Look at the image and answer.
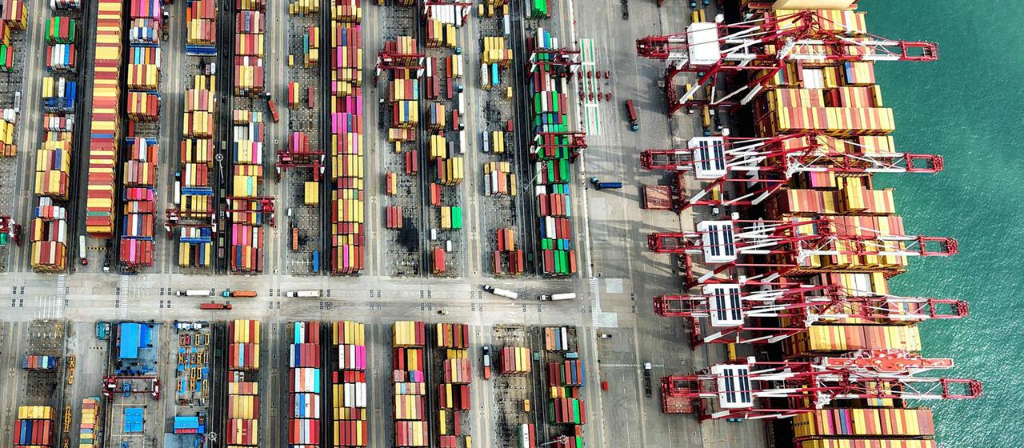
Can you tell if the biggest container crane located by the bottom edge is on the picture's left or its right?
right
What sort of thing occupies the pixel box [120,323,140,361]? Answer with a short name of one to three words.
building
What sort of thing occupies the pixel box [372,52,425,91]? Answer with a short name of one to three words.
container crane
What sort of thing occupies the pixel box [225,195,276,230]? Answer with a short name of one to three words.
container crane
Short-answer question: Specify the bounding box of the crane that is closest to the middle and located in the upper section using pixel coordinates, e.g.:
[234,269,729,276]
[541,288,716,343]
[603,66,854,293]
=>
[528,131,589,168]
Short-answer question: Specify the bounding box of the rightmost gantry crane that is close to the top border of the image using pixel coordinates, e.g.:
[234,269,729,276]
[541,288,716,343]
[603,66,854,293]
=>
[629,12,929,117]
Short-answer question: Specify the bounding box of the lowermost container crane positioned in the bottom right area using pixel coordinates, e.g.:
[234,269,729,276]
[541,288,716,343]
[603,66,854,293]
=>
[659,353,987,428]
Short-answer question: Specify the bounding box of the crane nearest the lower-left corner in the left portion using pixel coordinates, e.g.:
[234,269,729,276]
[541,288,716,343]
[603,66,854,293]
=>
[102,375,161,405]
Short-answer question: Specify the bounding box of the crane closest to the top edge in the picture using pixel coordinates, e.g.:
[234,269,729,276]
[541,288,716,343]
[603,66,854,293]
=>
[418,0,472,30]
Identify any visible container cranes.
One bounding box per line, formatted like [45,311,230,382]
[646,212,962,294]
[164,210,218,244]
[638,127,948,217]
[276,149,327,186]
[418,0,472,30]
[372,52,425,91]
[652,274,972,354]
[524,48,582,88]
[528,131,589,168]
[659,353,987,428]
[629,12,929,117]
[102,375,161,405]
[225,195,276,230]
